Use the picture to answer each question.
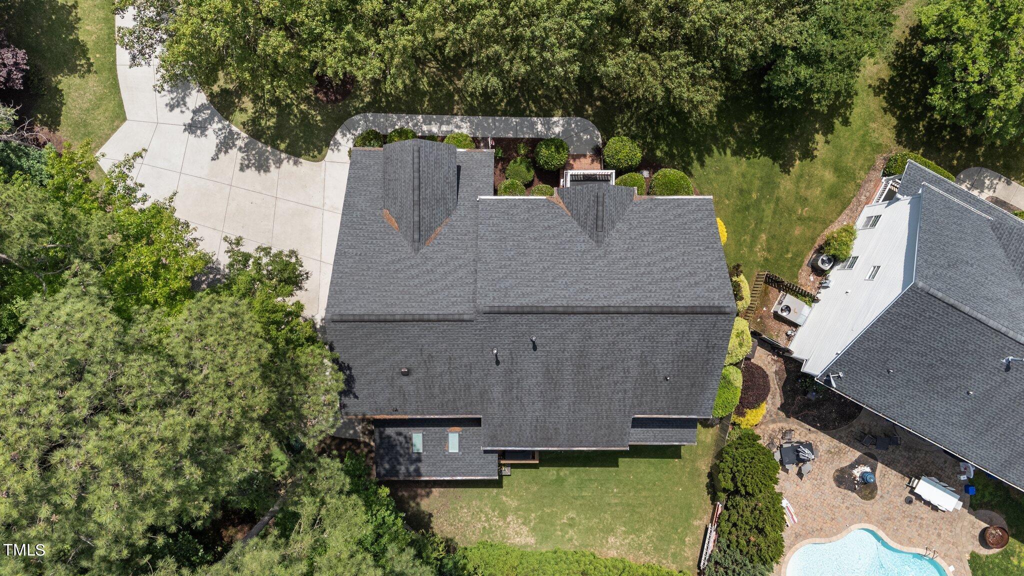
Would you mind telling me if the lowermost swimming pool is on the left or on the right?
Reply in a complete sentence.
The lowermost swimming pool sits on the right side.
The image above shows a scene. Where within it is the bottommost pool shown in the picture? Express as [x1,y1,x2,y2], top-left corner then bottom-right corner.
[782,523,955,576]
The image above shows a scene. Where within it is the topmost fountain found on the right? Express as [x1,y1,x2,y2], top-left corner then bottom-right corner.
[864,473,883,489]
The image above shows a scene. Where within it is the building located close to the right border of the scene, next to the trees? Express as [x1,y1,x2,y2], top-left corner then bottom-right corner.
[787,159,1024,496]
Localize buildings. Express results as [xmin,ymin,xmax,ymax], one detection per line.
[787,159,1024,496]
[325,139,736,482]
